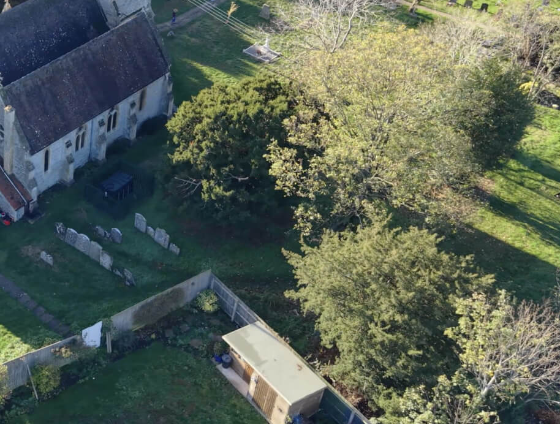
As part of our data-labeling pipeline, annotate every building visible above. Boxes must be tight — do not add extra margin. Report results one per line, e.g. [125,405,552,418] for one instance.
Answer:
[221,318,332,424]
[0,0,176,222]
